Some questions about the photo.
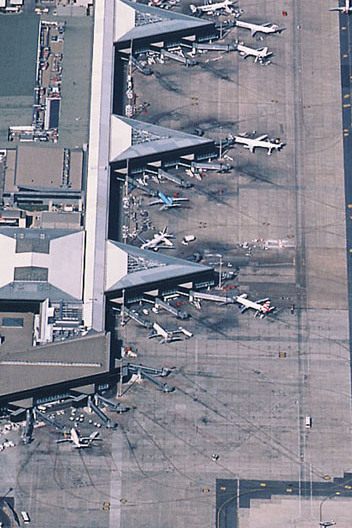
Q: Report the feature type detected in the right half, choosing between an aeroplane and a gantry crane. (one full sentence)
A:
It is an aeroplane that can be seen in the right half.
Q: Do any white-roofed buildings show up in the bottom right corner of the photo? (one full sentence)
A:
No, no white-roofed building appears in the bottom right corner of the photo.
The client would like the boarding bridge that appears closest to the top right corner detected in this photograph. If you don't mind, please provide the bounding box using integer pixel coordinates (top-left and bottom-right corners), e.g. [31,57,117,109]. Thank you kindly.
[212,21,237,34]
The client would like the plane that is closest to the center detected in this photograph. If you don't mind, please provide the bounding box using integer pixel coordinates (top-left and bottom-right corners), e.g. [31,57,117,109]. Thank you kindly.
[144,228,176,248]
